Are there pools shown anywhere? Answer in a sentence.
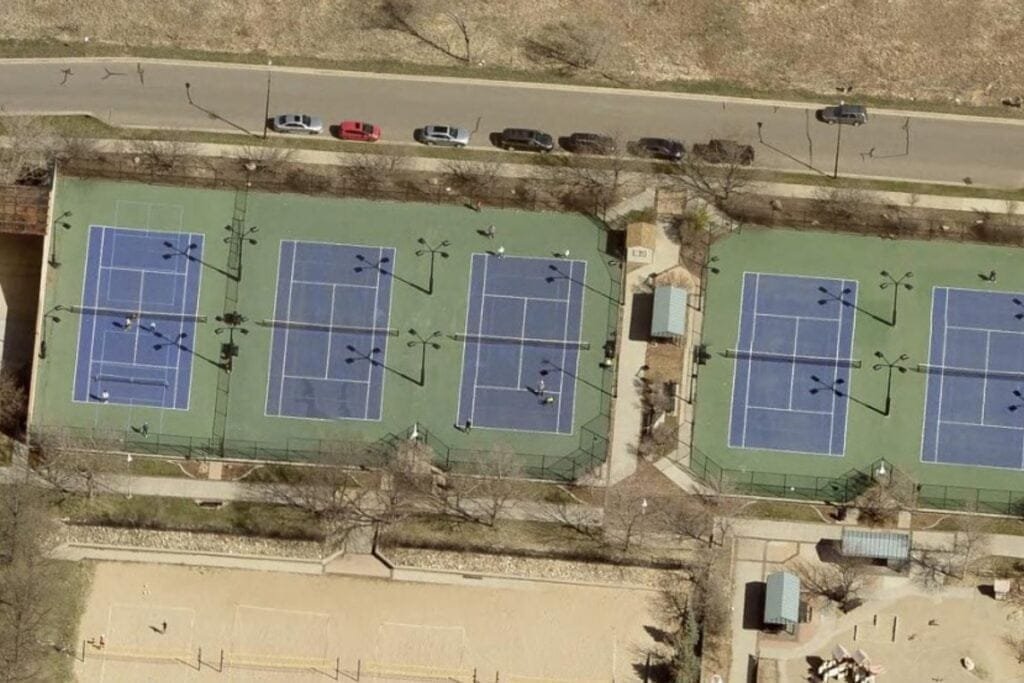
No, the scene contains no pool.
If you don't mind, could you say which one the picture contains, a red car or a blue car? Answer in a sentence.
Looking from above, you can make out a red car.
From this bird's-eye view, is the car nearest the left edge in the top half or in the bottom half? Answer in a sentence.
The car nearest the left edge is in the top half of the image.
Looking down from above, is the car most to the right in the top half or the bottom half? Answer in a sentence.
You can find the car most to the right in the top half.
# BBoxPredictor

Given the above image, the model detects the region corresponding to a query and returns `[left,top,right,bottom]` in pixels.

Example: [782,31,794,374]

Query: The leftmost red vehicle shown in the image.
[341,120,383,141]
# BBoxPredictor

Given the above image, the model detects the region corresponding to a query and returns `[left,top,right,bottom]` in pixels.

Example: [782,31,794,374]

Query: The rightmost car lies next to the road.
[820,103,867,127]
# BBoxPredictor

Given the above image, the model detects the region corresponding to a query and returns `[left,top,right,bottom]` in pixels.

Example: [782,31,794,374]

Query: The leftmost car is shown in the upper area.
[275,113,324,135]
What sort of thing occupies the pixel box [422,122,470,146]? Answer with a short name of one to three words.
car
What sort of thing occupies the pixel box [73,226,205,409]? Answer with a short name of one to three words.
tennis court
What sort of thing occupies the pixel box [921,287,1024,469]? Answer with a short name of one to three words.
tennis court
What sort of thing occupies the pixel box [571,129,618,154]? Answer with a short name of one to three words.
car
